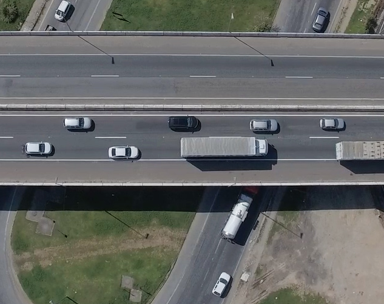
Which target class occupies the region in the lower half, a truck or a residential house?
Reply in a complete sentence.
What appears in the lower half is a truck.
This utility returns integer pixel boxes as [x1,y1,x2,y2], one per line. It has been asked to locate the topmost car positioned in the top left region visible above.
[55,0,72,20]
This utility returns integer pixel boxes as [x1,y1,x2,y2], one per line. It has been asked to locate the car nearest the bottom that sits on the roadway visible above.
[212,272,230,300]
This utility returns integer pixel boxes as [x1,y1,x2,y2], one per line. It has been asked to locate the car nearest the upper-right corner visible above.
[312,6,331,33]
